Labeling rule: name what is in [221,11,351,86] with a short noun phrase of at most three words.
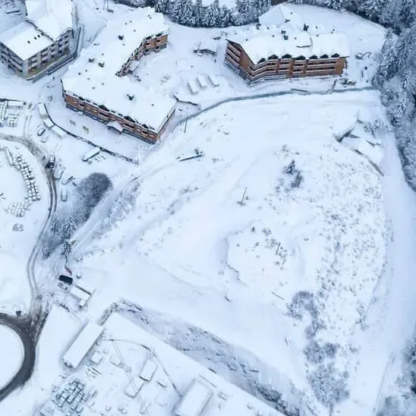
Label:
house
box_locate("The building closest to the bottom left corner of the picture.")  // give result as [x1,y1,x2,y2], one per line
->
[62,320,106,371]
